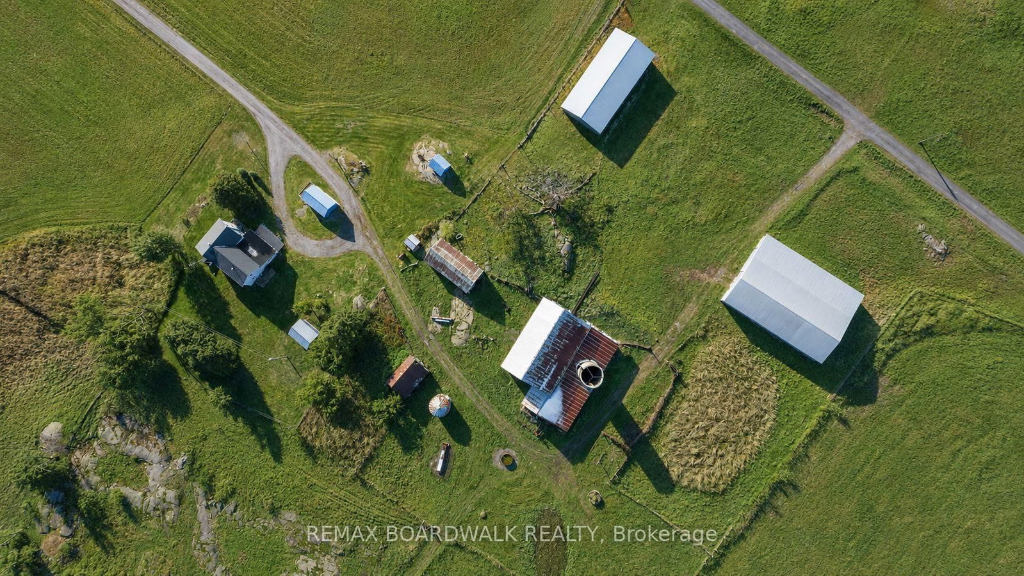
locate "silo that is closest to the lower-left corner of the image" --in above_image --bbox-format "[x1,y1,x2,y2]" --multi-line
[428,392,452,417]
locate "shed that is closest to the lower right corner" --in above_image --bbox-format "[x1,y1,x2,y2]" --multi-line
[718,234,863,362]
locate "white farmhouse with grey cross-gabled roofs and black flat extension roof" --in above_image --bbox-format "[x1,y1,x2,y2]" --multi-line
[196,218,288,287]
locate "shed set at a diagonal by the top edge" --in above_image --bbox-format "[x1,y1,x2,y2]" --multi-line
[562,27,655,136]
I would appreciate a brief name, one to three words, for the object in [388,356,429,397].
shed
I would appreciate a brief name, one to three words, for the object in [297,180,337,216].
building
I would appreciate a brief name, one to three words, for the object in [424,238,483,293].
shed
